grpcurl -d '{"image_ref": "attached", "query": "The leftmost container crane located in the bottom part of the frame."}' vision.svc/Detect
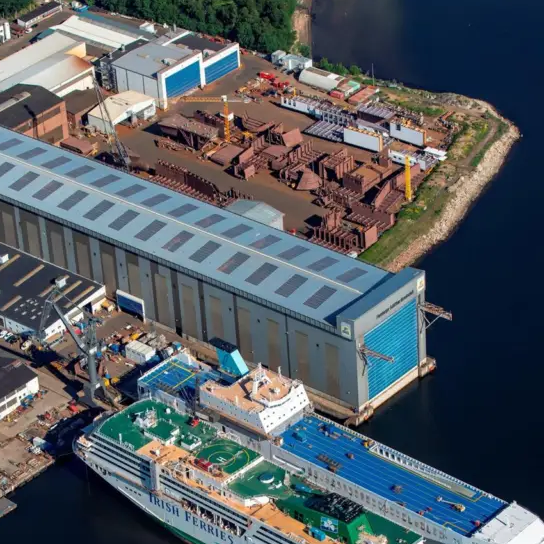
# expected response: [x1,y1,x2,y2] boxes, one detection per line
[37,294,110,413]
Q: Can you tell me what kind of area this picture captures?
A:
port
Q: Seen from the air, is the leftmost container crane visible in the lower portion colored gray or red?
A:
gray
